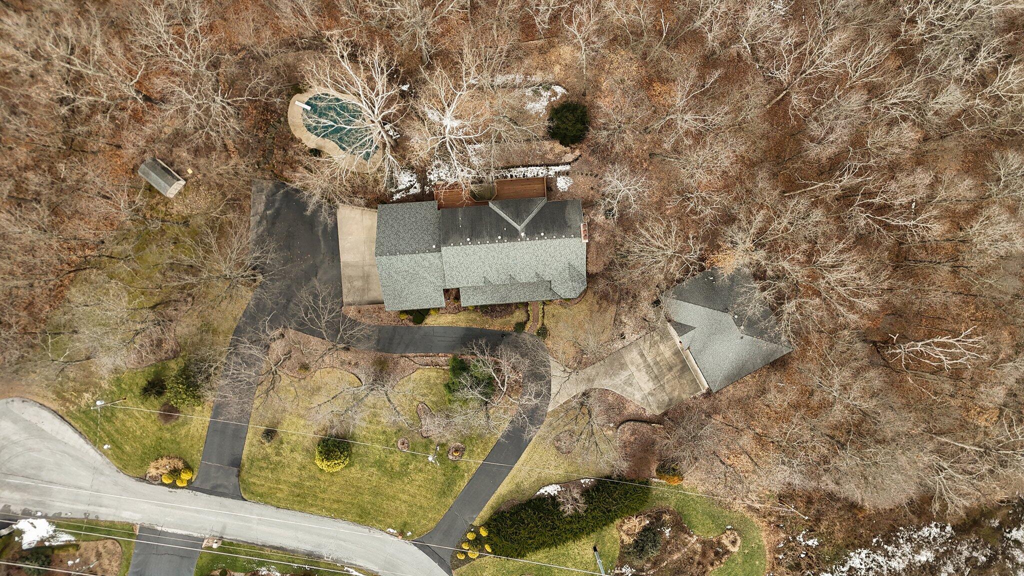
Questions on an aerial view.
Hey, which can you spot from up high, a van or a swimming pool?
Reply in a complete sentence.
Looking from above, you can make out a swimming pool.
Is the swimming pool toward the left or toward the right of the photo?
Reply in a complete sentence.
The swimming pool sits on the left side.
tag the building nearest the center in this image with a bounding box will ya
[376,197,588,311]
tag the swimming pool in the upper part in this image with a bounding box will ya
[288,88,384,174]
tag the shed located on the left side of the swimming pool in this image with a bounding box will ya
[133,154,185,197]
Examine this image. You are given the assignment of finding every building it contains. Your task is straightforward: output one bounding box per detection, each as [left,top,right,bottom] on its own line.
[133,154,185,197]
[376,197,588,311]
[655,256,793,393]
